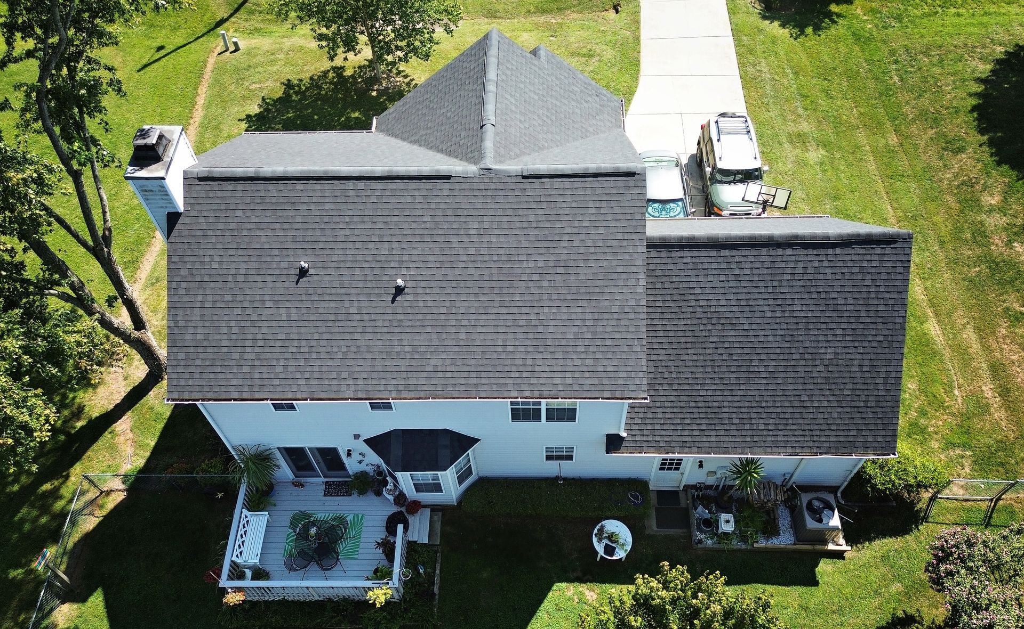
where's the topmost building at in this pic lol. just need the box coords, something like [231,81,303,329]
[122,29,912,507]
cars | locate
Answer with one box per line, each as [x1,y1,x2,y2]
[636,145,699,216]
[701,111,771,216]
